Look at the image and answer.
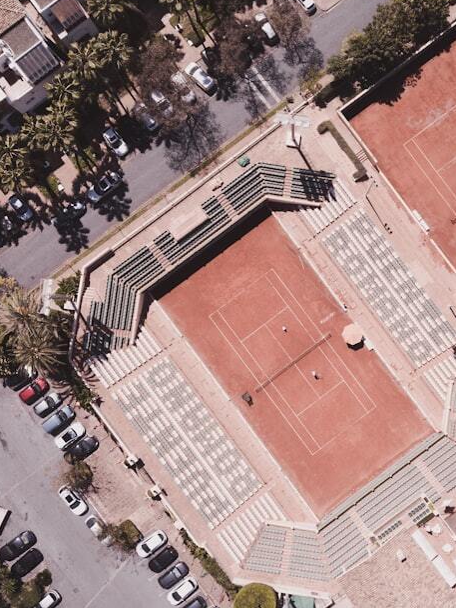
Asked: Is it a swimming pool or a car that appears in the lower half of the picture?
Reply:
car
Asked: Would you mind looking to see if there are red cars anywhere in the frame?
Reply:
Yes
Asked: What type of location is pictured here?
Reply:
sports ground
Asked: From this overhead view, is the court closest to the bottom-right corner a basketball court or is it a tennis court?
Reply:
tennis court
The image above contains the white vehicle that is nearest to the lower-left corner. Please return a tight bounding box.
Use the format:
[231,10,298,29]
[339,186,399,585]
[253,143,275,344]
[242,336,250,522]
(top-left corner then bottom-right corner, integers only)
[33,588,63,608]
